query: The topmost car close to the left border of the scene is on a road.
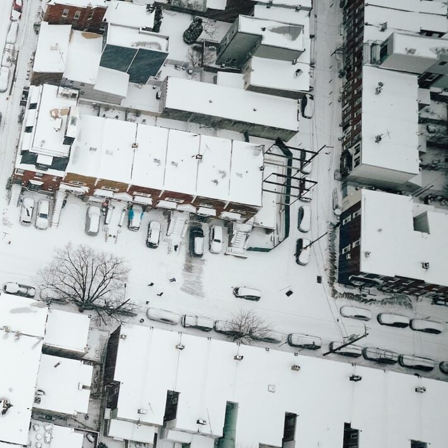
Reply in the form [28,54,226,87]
[9,0,23,21]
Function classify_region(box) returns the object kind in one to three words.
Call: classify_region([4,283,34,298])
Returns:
car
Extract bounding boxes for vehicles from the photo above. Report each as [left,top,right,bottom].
[125,206,141,231]
[248,329,277,346]
[9,0,23,21]
[289,334,317,350]
[296,209,311,231]
[145,223,160,248]
[5,22,19,43]
[84,208,100,235]
[297,177,312,203]
[212,322,241,336]
[411,318,446,335]
[208,227,225,253]
[41,289,70,303]
[400,355,431,370]
[0,41,15,70]
[179,315,214,332]
[377,313,407,329]
[4,283,34,298]
[339,306,369,322]
[147,308,179,325]
[18,199,35,226]
[328,342,361,357]
[294,238,310,266]
[300,96,314,118]
[232,286,261,303]
[187,228,203,255]
[35,202,50,229]
[363,348,395,365]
